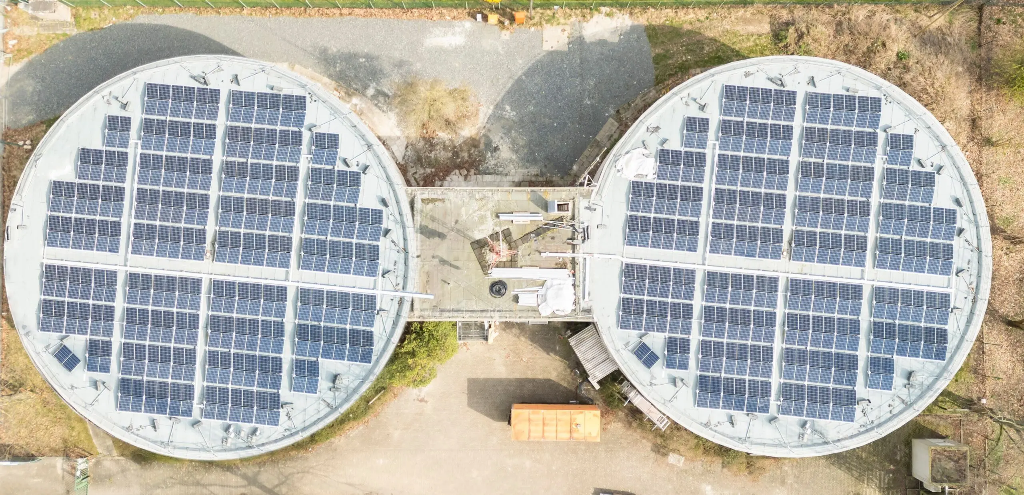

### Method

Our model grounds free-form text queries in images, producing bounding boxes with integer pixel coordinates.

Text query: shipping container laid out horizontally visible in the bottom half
[510,397,601,443]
